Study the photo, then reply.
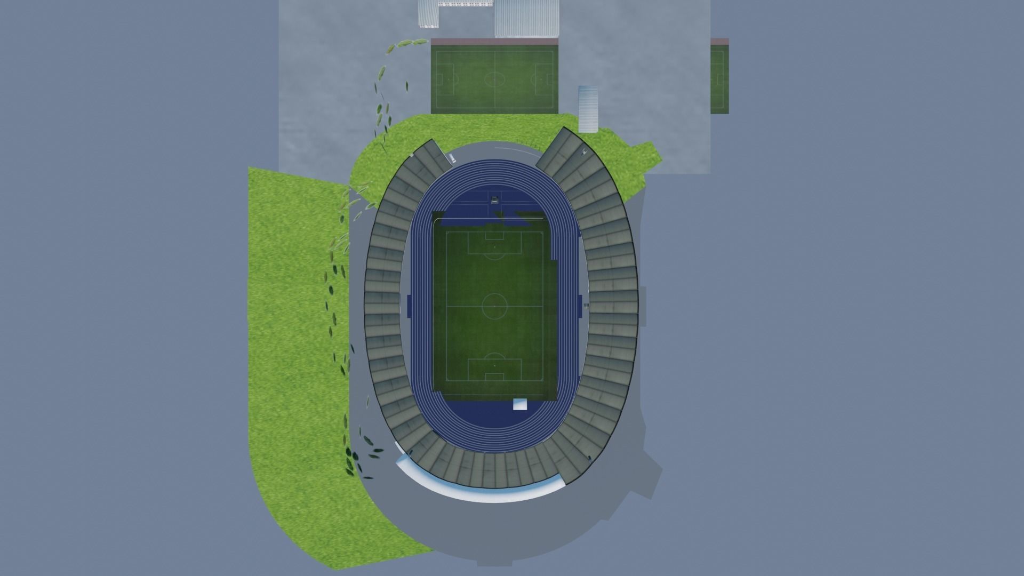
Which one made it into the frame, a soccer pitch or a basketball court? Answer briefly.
soccer pitch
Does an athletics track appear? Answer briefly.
Yes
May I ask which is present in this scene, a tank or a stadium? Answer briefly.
stadium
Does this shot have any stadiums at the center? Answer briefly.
Yes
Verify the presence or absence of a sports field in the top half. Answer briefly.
Yes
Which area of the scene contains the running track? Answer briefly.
center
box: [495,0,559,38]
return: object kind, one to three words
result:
building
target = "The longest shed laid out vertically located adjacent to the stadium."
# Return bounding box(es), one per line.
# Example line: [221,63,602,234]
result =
[579,86,598,133]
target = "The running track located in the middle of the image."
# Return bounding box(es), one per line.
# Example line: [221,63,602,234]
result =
[407,159,582,454]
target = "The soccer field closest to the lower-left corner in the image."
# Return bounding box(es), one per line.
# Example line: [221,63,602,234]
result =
[433,211,557,401]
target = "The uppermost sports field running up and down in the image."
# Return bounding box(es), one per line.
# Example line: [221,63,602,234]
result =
[710,38,729,114]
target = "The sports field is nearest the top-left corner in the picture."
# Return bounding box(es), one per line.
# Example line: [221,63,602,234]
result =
[431,38,558,114]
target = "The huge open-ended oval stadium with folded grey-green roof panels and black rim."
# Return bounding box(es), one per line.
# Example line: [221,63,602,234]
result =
[364,126,639,488]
